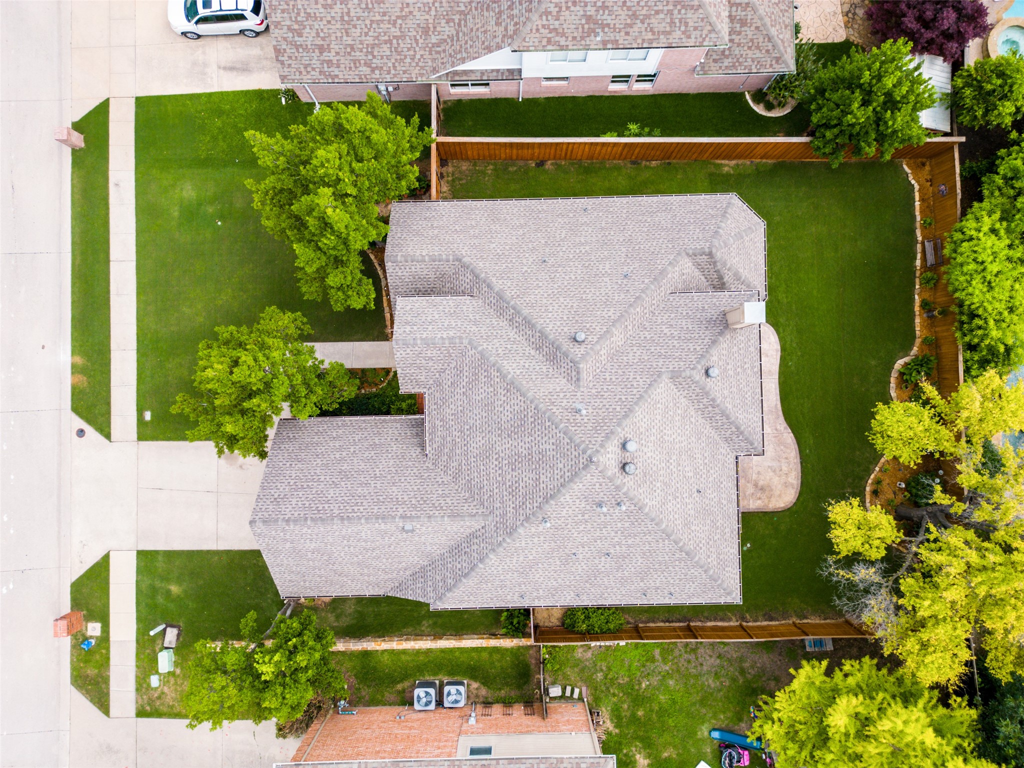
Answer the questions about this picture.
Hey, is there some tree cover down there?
Yes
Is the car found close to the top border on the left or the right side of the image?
left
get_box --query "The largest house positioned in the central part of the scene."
[249,193,767,610]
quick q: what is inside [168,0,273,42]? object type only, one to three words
car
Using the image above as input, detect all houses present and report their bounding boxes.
[249,193,767,610]
[273,696,616,768]
[268,0,796,104]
